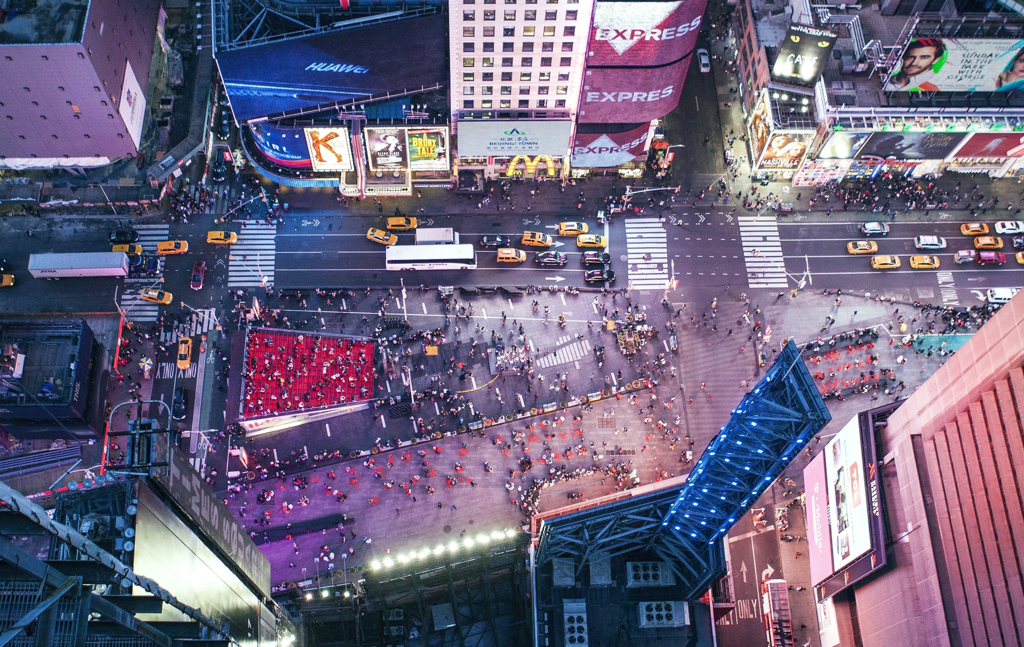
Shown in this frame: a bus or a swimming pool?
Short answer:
bus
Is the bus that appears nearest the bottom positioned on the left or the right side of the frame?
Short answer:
right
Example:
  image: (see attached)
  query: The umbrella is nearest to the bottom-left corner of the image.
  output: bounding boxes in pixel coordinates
[135,354,157,373]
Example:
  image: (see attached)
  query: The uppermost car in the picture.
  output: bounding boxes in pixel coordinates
[697,50,711,70]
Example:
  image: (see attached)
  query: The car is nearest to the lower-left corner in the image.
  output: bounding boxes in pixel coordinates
[169,387,190,420]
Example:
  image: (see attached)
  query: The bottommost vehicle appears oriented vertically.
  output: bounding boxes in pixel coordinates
[757,580,791,647]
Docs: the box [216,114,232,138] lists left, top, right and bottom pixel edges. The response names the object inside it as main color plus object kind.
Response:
black car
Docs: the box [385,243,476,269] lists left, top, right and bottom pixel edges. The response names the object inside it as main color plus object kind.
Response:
white bus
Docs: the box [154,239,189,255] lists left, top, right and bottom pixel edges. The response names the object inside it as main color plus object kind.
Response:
orange car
